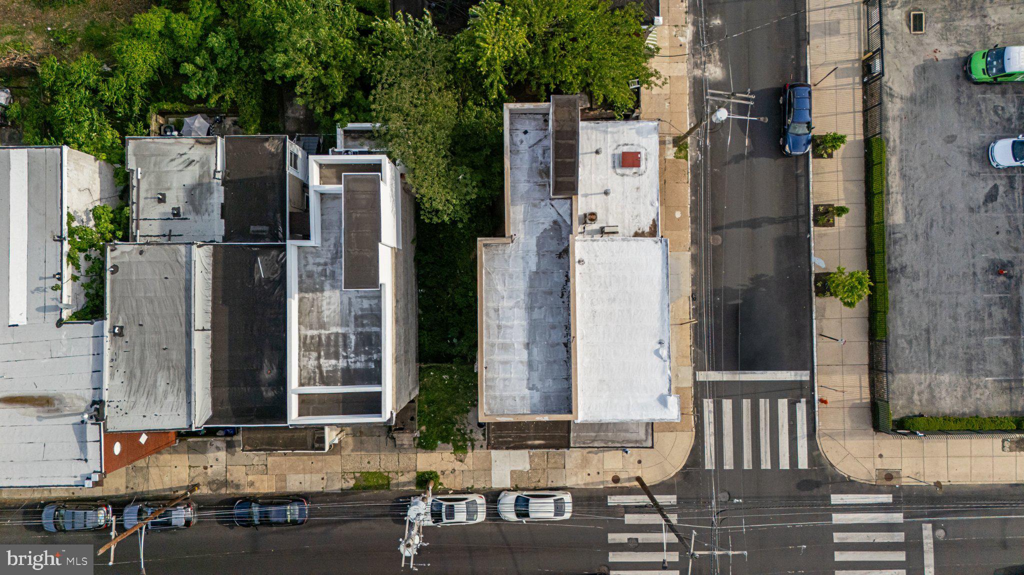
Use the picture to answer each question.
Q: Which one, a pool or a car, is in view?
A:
car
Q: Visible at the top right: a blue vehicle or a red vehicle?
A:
blue vehicle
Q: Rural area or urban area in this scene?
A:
urban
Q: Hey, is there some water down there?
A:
No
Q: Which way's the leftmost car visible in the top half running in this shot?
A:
up and down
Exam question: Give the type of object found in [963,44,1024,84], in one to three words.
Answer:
van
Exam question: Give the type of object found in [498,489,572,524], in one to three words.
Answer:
car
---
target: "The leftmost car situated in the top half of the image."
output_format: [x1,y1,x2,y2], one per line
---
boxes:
[778,82,815,157]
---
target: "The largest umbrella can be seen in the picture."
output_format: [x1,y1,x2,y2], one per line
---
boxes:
[180,114,209,137]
